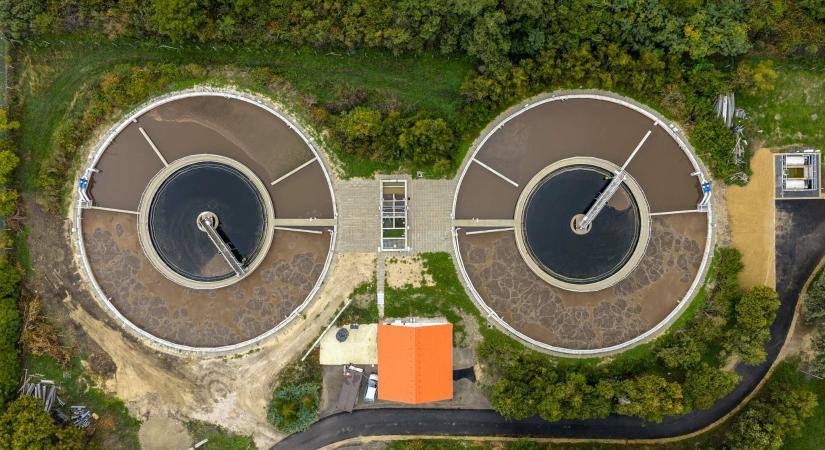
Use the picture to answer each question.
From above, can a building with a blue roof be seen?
No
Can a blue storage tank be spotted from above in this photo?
No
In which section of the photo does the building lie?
bottom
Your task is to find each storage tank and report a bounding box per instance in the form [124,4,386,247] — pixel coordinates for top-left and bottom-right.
[72,85,343,356]
[447,89,720,359]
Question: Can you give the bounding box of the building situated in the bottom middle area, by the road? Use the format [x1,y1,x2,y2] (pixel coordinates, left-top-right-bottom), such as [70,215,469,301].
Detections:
[377,320,454,408]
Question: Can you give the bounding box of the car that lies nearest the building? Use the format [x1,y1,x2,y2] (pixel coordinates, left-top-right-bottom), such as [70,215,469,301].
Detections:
[364,375,377,403]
